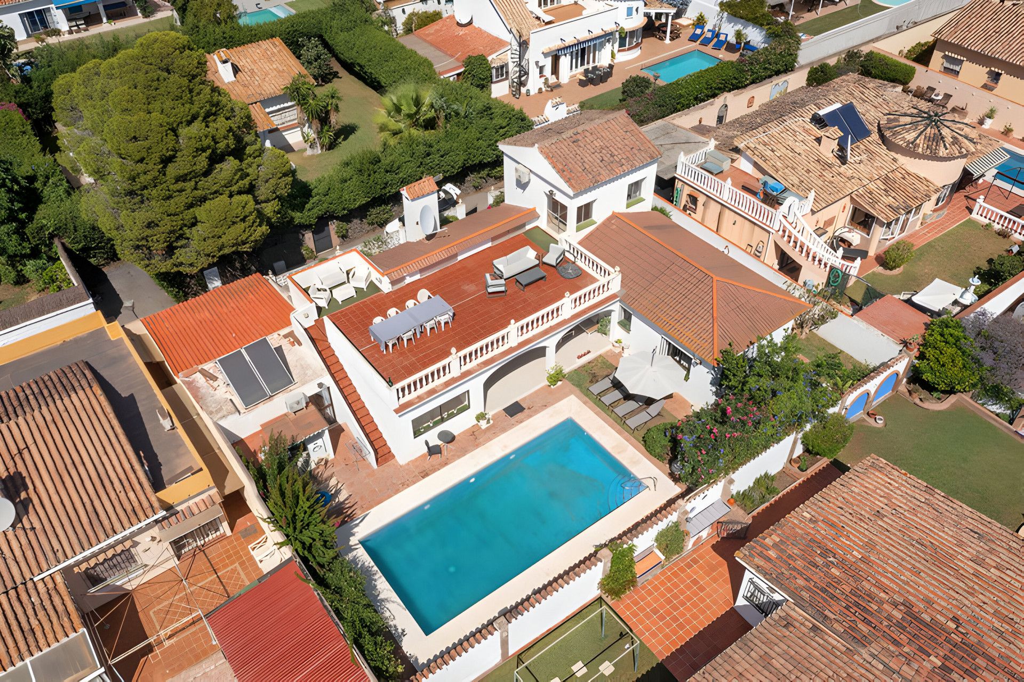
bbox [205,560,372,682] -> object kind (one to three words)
shed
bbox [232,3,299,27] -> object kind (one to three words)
swimming pool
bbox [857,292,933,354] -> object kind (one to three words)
shed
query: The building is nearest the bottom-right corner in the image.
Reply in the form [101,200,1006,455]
[695,453,1024,682]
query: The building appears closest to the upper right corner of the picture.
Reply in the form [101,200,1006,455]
[925,0,1024,100]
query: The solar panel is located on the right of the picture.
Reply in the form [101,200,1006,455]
[807,100,869,143]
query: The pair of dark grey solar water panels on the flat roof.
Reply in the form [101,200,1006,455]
[214,336,298,408]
